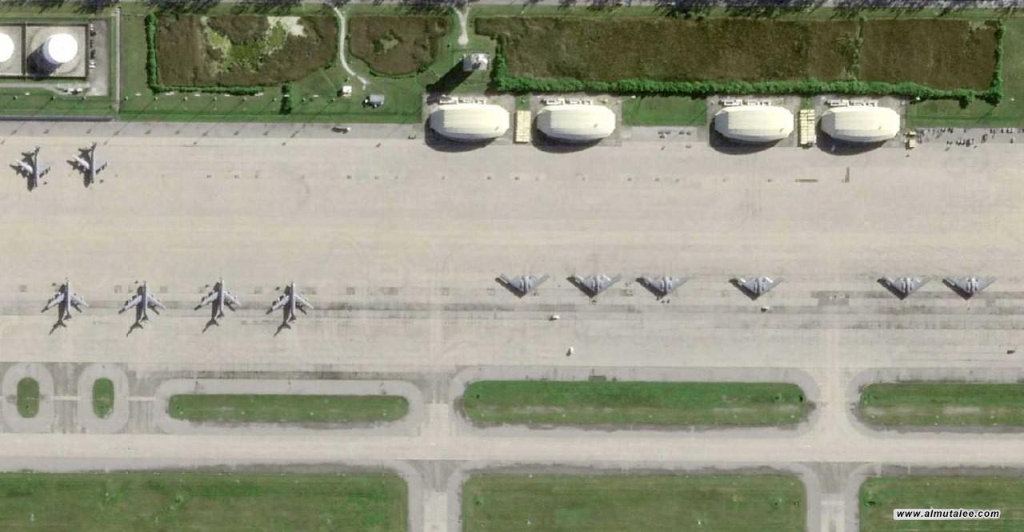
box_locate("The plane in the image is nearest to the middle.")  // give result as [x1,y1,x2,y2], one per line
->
[499,273,551,294]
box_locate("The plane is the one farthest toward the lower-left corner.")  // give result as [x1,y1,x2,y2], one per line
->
[49,281,89,322]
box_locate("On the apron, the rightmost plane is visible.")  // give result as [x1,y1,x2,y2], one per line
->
[946,277,998,298]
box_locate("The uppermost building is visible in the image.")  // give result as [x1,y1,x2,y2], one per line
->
[462,53,489,73]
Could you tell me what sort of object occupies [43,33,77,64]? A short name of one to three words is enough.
storage tank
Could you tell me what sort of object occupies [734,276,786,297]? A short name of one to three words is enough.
airplane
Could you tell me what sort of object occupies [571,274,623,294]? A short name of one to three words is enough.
airplane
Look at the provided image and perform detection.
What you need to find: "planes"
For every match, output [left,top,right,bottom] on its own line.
[734,276,786,297]
[17,144,57,187]
[499,273,551,294]
[203,280,243,321]
[946,277,998,298]
[74,139,114,182]
[571,274,623,294]
[640,274,692,295]
[274,283,314,324]
[49,281,89,322]
[126,282,166,324]
[881,277,933,298]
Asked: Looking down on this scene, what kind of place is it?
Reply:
airport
